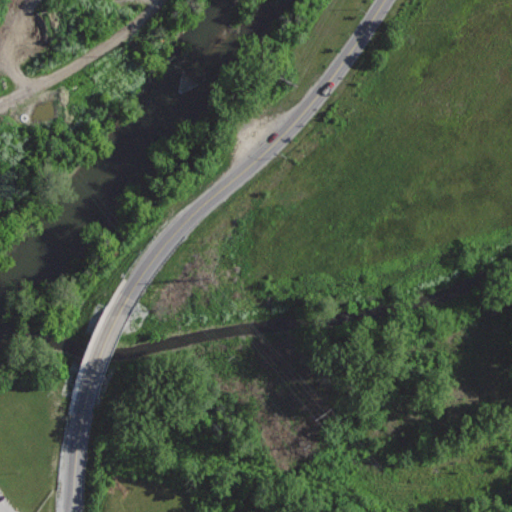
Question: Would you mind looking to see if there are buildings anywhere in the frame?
No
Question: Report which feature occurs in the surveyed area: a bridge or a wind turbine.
bridge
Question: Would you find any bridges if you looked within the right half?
No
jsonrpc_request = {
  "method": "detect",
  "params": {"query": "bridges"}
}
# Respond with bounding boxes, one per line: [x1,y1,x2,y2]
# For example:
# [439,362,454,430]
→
[60,271,150,399]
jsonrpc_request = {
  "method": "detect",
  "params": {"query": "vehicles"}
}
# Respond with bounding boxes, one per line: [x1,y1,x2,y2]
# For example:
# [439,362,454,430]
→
[322,81,334,95]
[269,132,278,142]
